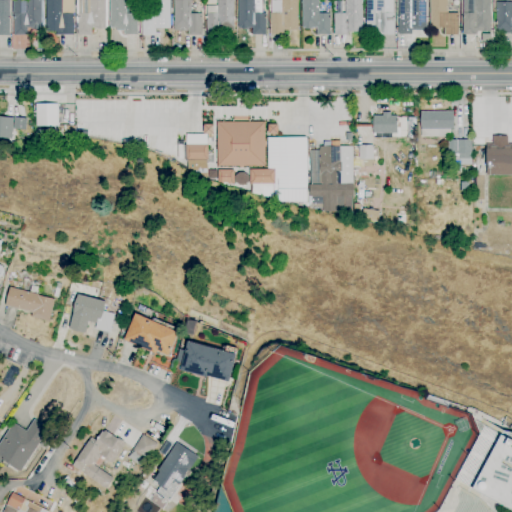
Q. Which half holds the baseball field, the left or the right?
right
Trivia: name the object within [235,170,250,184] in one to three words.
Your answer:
gazebo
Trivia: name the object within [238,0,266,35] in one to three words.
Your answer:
building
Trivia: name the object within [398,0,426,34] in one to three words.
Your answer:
building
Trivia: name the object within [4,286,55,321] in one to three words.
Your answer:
house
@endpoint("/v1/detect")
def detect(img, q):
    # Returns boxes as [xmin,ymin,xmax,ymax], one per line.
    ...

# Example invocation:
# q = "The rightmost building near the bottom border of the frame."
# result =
[472,434,512,508]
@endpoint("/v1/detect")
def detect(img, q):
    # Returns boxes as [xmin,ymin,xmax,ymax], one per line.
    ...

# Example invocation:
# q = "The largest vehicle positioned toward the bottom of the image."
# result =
[210,414,236,428]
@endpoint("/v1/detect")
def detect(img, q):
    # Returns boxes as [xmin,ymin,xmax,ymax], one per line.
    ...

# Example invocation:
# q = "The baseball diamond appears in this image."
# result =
[224,347,478,512]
